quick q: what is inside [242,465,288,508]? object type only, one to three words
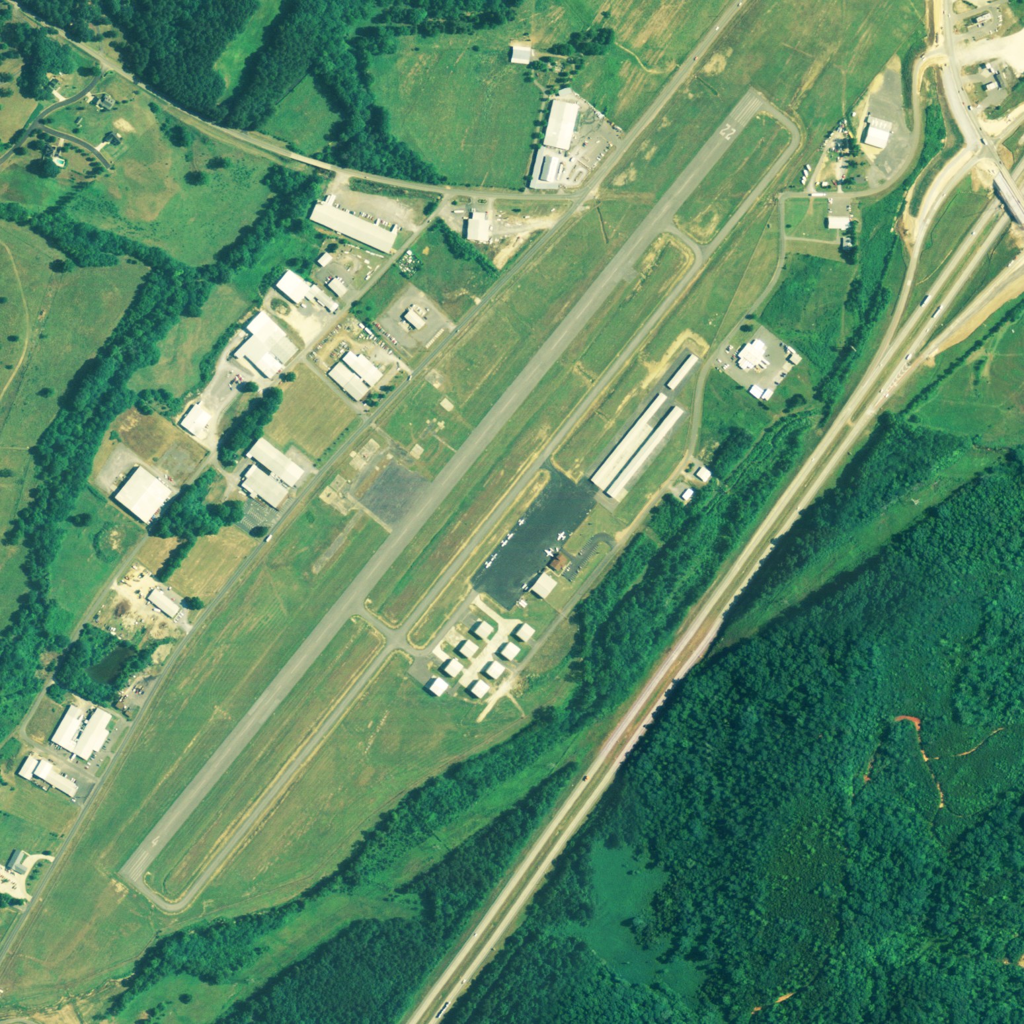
building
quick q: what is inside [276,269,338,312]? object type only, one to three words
building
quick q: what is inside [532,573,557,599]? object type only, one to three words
hangar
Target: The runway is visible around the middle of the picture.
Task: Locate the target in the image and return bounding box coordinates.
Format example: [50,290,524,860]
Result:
[119,87,766,885]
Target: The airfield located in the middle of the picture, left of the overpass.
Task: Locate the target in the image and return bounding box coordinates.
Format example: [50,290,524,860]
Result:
[119,87,799,909]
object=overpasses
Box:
[992,161,1024,228]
